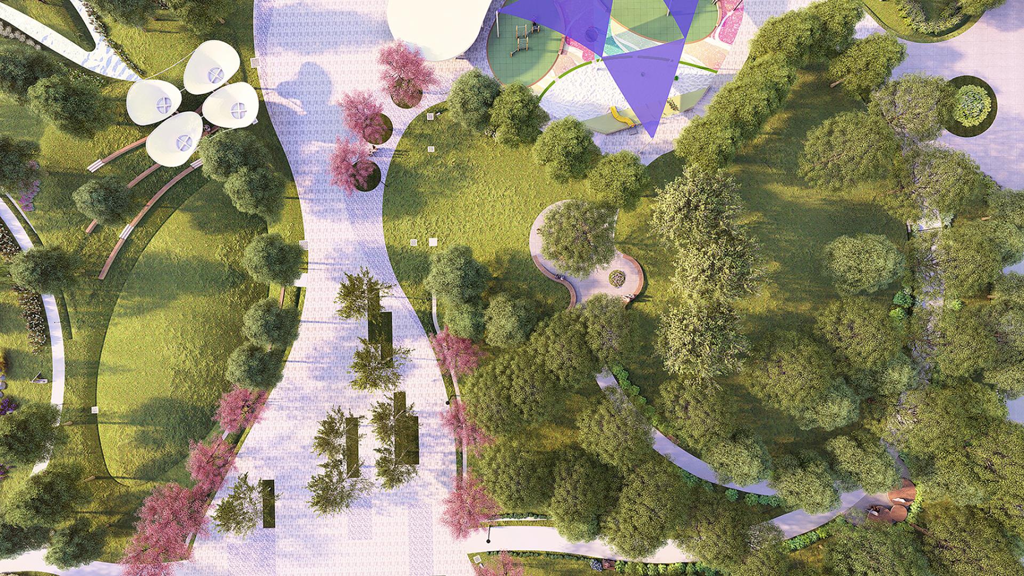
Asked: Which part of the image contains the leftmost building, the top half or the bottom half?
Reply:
top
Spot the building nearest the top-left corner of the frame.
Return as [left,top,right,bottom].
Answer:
[387,0,493,62]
